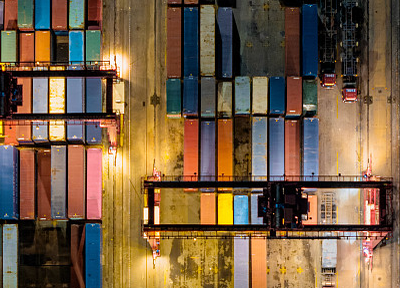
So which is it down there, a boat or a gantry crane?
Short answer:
gantry crane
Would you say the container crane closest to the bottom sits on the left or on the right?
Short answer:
right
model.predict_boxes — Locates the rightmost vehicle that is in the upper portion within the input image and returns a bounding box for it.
[340,6,357,104]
